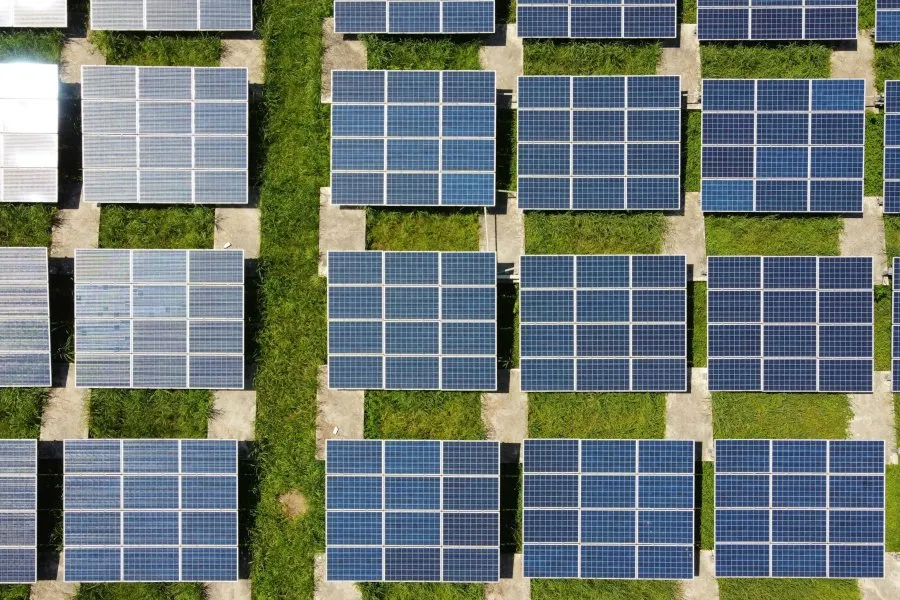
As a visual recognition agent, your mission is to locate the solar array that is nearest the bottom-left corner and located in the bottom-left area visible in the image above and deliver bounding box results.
[0,439,49,582]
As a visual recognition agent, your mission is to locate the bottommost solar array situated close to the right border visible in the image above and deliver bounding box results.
[710,439,884,578]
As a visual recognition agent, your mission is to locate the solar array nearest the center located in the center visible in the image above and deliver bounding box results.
[328,252,497,389]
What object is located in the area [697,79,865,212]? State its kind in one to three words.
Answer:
solar array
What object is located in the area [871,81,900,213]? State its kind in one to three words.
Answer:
solar array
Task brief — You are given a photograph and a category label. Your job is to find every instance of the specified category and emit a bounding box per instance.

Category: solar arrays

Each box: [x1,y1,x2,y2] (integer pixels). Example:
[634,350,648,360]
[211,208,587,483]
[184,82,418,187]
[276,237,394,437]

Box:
[0,439,49,582]
[518,76,680,209]
[326,440,500,582]
[694,0,857,40]
[871,81,900,213]
[63,439,243,582]
[0,248,60,387]
[334,0,495,33]
[867,0,900,42]
[520,256,687,391]
[82,66,251,204]
[91,0,253,31]
[710,439,884,578]
[75,249,248,388]
[523,439,694,578]
[0,0,73,27]
[0,64,69,202]
[880,257,900,392]
[701,257,873,392]
[697,79,865,212]
[330,70,496,206]
[328,252,497,389]
[516,0,676,39]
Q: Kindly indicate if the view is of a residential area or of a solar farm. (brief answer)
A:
solar farm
